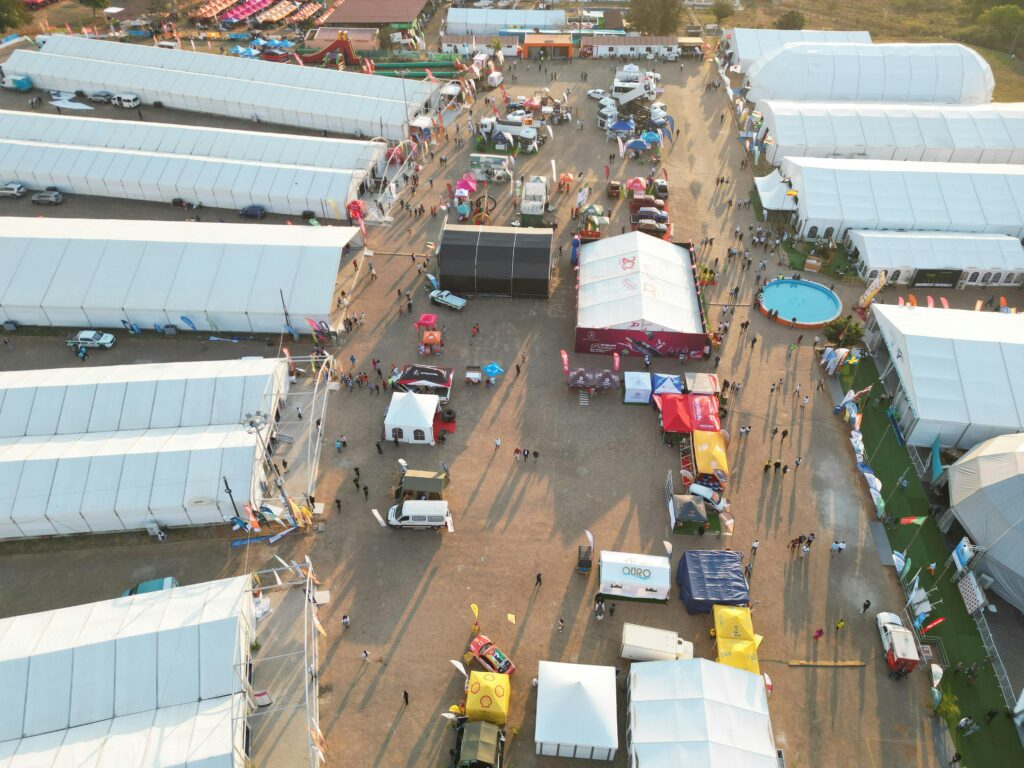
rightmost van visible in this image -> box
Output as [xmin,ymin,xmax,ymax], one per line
[878,610,933,690]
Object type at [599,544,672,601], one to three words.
tent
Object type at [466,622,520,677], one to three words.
car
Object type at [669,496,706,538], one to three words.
gazebo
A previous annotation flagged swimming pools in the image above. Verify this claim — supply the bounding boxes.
[754,278,844,332]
